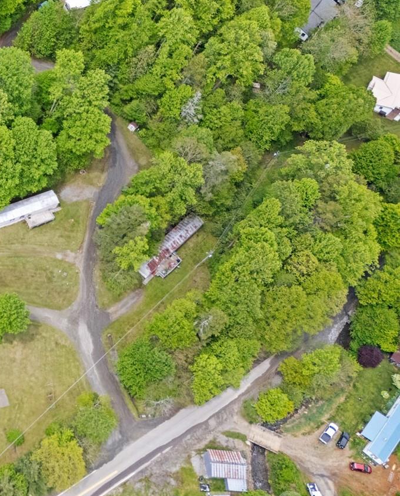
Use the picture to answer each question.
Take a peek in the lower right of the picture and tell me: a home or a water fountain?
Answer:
home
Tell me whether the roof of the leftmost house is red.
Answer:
No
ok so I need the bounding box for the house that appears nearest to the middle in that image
[131,216,205,291]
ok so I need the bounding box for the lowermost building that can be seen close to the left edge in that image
[0,191,59,232]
